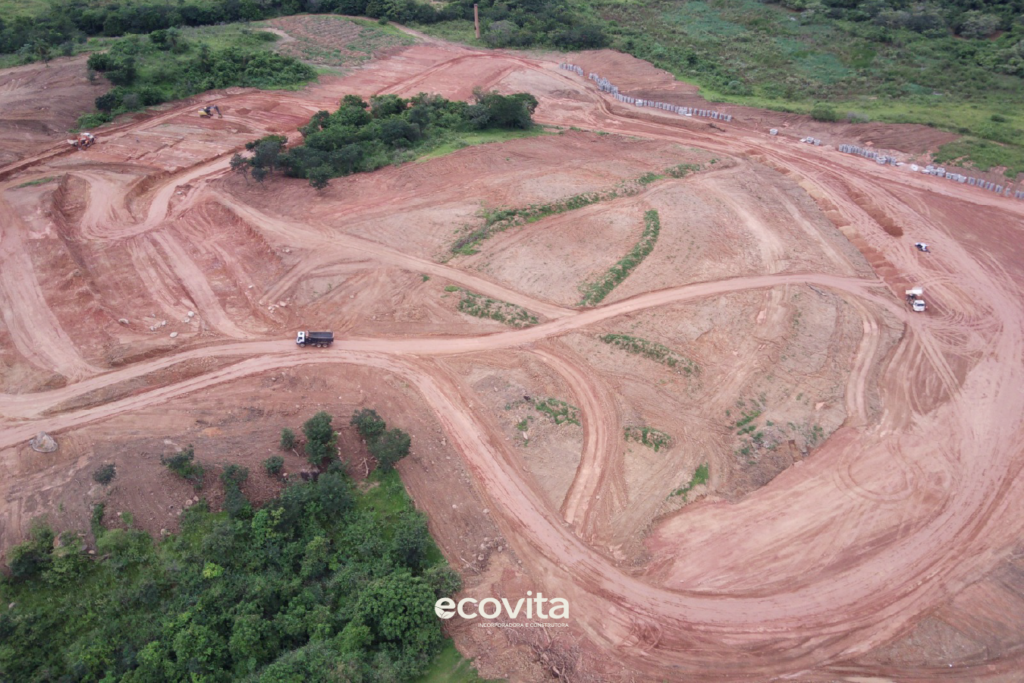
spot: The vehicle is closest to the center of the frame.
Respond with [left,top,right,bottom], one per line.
[294,331,334,348]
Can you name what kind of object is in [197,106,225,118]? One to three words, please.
vehicle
